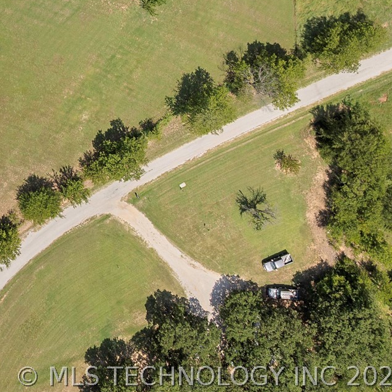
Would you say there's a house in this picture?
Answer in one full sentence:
No, there appears to be no house in this shot.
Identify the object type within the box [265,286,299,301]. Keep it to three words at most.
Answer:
vehicle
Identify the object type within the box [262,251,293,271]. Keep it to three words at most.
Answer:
vehicle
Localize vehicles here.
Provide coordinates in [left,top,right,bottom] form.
[265,286,299,301]
[262,251,293,271]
